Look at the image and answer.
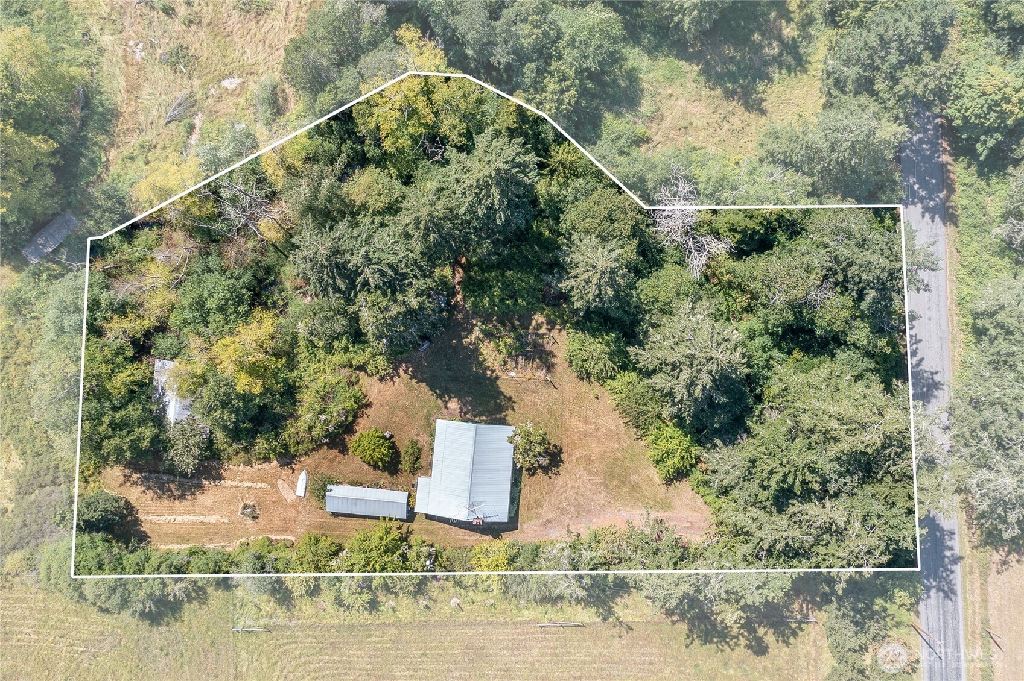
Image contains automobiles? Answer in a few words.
No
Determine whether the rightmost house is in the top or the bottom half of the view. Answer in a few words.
bottom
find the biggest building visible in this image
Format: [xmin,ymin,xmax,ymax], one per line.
[414,419,516,529]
